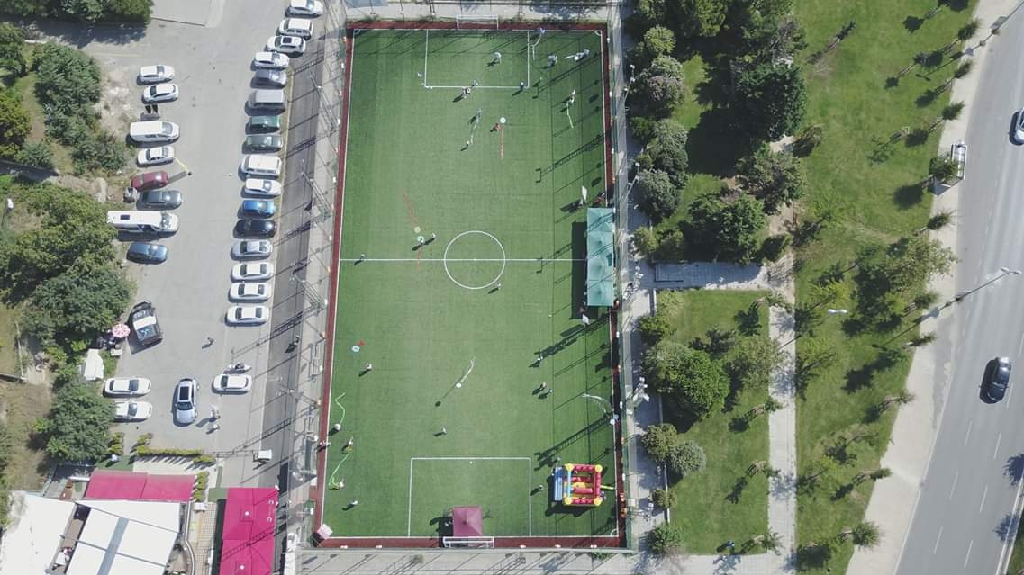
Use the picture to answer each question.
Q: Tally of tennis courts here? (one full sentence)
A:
The count of tennis courts is 0.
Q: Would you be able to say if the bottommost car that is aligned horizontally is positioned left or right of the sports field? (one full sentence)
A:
To the left of the sports field is where the bottommost car that is aligned horizontally appears.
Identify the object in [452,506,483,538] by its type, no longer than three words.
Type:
gazebo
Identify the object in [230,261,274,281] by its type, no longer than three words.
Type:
car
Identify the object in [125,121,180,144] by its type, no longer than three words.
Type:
vehicle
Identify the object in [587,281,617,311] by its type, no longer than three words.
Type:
gazebo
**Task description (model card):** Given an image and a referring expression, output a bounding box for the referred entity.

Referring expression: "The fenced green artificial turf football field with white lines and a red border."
[312,22,631,550]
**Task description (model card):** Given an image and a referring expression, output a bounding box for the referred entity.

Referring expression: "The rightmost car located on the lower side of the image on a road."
[982,356,1011,404]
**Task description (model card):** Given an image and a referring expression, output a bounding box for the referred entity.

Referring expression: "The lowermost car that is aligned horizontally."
[106,402,153,422]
